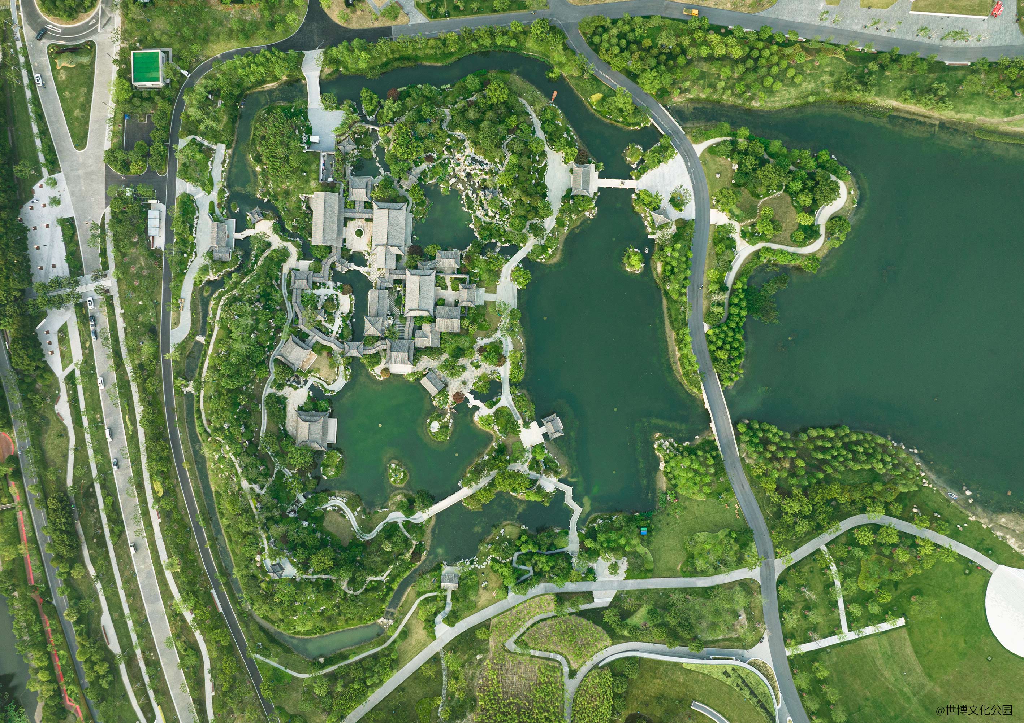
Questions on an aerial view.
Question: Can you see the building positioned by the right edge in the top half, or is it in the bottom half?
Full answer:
The bottom half of the photo is where the building positioned by the right edge is.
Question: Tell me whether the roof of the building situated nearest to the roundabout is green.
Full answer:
Yes, the roof of the building situated nearest to the roundabout is indeed green.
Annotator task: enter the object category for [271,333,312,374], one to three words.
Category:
building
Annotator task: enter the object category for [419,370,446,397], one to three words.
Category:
building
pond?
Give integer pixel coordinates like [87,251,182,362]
[288,130,519,514]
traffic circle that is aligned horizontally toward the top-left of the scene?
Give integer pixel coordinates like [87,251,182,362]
[20,0,117,43]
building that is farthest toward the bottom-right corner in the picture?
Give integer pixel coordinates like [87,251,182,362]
[985,563,1024,659]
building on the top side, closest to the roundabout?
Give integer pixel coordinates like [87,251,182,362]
[131,50,174,89]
